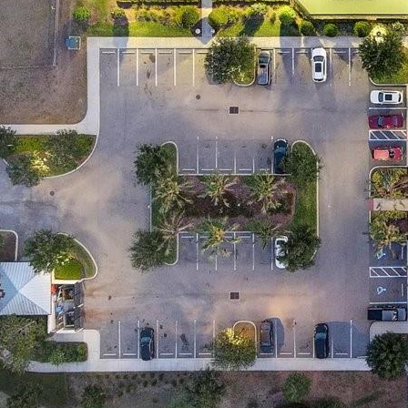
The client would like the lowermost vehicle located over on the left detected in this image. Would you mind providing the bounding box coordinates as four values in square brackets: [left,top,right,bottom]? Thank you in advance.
[138,326,156,360]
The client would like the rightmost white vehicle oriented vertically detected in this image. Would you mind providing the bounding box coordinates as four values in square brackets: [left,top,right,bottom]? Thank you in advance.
[311,48,326,81]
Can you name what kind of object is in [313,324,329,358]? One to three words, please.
car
